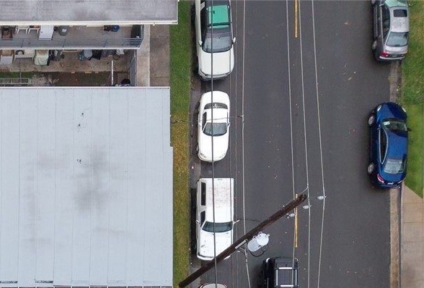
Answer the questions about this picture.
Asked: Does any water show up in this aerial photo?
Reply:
No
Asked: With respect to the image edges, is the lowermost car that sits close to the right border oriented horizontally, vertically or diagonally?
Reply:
vertically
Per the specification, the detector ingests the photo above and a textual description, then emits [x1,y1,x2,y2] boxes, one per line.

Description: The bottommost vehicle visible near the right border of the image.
[366,103,410,190]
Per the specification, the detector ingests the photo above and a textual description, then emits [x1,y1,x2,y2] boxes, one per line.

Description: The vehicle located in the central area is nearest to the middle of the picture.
[194,89,232,166]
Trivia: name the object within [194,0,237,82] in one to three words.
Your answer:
car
